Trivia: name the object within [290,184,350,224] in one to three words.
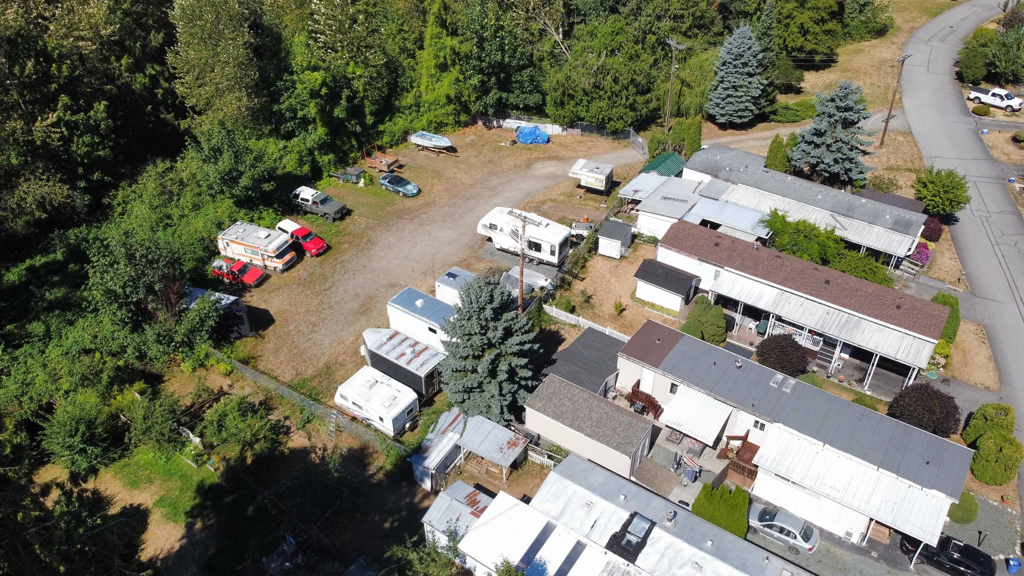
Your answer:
truck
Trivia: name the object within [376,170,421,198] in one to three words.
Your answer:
car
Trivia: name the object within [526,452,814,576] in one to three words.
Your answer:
house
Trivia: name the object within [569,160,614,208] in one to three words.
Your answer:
camper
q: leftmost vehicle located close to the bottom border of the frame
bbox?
[740,502,823,560]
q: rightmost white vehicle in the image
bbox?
[965,87,1024,113]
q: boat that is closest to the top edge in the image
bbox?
[407,132,451,149]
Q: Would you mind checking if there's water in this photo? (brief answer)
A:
No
